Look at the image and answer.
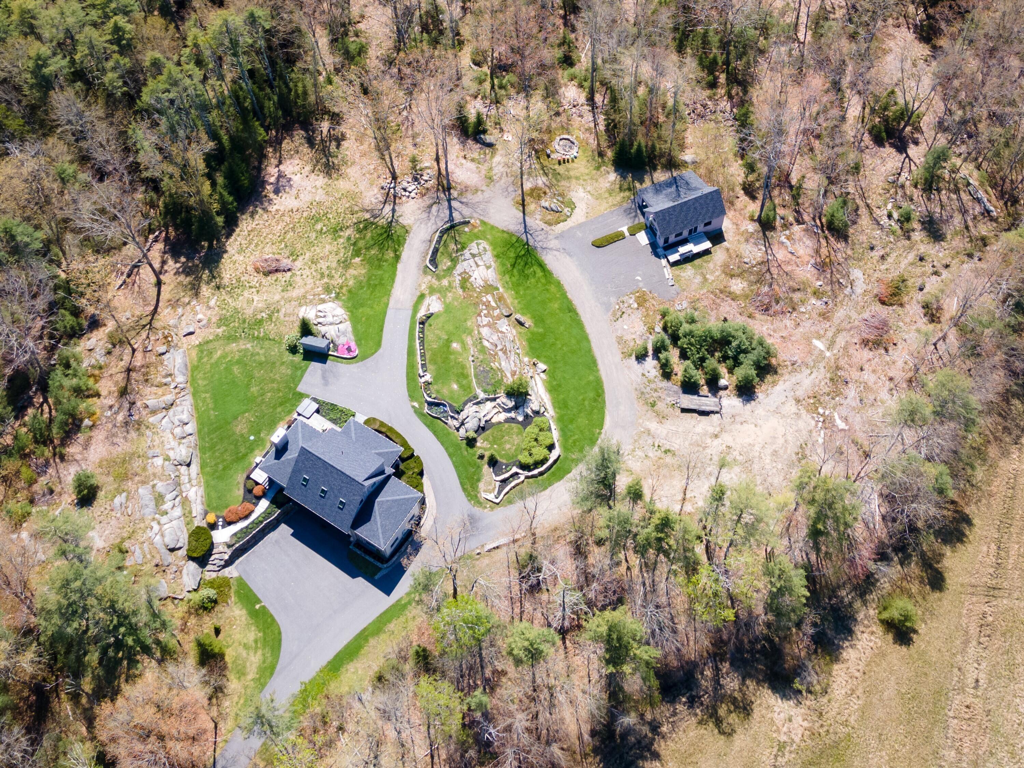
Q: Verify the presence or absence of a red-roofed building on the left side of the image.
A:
No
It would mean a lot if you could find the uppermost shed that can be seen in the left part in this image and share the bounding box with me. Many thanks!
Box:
[299,332,329,356]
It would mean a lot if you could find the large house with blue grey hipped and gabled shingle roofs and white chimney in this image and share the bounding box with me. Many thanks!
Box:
[257,417,424,559]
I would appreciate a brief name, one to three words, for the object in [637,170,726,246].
building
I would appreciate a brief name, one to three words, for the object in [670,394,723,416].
trailer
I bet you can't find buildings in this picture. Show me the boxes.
[257,417,424,559]
[299,332,329,356]
[637,170,726,246]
